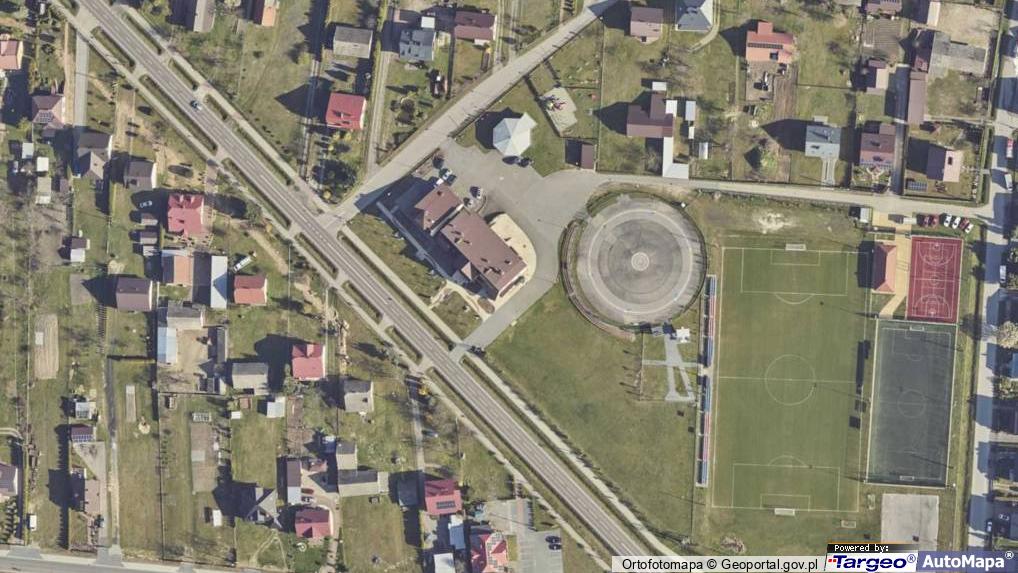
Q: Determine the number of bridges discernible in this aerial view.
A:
0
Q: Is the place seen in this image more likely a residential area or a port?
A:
residential area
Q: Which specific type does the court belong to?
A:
basketball court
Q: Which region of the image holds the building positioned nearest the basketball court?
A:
right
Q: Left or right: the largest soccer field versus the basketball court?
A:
on its left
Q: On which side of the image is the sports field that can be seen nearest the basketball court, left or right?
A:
right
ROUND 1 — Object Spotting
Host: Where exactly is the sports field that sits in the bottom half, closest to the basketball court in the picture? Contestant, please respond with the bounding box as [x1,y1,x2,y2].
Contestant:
[869,320,957,486]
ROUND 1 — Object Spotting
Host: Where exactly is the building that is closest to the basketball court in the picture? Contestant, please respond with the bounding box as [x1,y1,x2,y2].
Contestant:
[873,242,897,293]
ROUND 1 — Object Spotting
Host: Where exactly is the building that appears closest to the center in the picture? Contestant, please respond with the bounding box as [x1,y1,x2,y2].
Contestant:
[412,182,526,290]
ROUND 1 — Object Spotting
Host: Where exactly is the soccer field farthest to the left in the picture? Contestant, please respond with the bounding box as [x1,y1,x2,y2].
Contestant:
[708,244,870,515]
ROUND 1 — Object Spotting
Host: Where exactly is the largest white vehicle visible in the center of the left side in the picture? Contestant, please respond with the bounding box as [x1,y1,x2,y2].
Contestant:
[232,256,254,274]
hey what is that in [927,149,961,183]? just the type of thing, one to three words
house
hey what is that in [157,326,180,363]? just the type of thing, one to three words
barn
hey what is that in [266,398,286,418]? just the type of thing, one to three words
shed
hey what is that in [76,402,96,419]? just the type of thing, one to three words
greenhouse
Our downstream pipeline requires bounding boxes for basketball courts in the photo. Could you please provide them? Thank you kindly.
[906,236,963,325]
